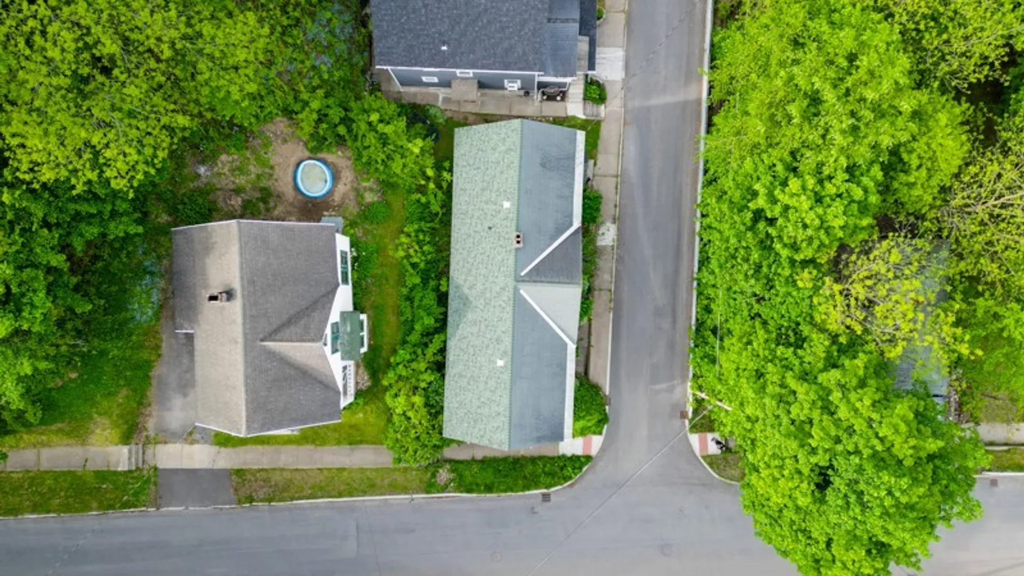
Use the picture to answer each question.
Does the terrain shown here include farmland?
No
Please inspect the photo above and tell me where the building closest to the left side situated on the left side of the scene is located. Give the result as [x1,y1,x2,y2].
[171,216,367,437]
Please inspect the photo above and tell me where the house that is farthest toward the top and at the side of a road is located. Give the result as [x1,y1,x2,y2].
[371,0,596,108]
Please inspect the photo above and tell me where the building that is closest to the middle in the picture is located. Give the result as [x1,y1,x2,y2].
[443,119,586,450]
